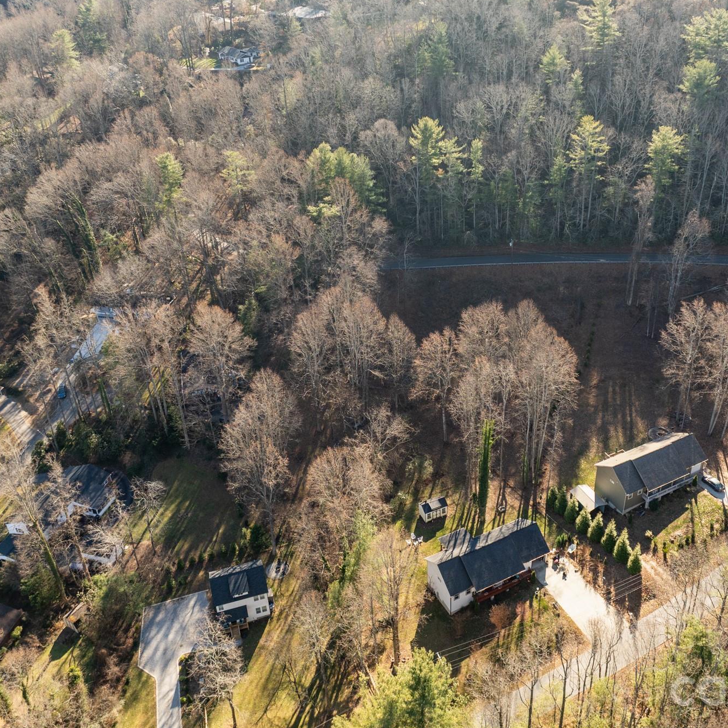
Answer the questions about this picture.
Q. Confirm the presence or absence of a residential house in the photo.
Yes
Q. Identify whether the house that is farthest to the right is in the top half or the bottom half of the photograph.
bottom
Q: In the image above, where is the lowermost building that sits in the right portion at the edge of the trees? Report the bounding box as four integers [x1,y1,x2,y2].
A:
[425,517,555,616]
